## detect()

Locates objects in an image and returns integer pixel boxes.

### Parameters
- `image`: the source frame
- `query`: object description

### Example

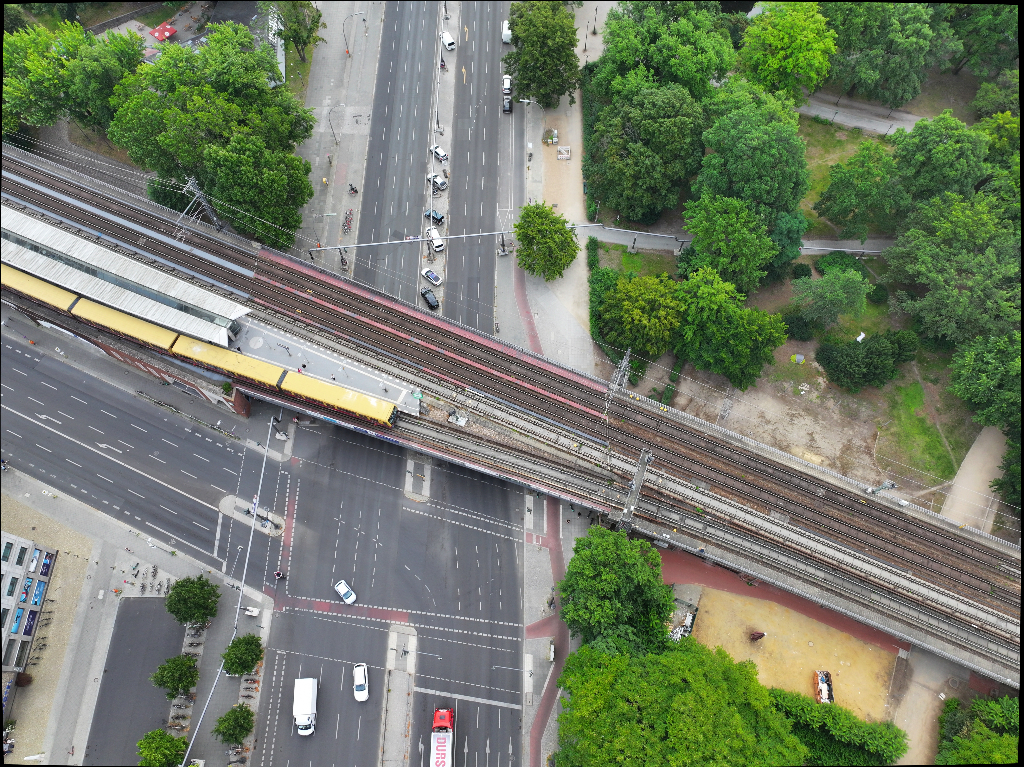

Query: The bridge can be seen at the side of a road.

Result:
[0,146,1024,690]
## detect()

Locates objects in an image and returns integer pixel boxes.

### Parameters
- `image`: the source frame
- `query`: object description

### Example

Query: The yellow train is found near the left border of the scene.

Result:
[0,264,398,429]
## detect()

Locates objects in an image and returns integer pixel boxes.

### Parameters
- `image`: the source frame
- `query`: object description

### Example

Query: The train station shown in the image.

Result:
[0,205,420,418]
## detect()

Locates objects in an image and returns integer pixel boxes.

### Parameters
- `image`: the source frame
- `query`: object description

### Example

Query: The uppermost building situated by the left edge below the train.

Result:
[0,532,57,669]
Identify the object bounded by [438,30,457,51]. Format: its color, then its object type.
white vehicle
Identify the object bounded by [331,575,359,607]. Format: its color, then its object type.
white car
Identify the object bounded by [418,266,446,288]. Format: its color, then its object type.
white car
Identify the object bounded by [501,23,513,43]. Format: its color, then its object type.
white vehicle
